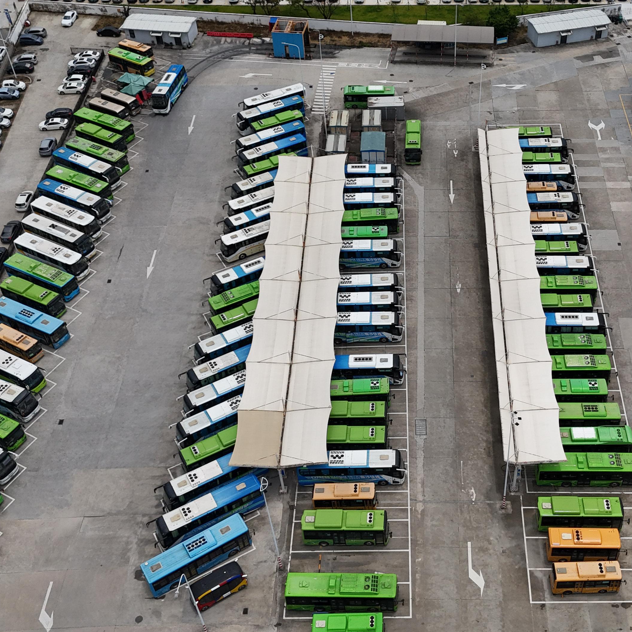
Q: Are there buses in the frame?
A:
Yes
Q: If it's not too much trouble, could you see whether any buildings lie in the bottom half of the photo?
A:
No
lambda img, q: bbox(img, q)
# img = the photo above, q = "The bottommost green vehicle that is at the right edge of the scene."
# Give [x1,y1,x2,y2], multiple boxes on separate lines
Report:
[537,497,627,531]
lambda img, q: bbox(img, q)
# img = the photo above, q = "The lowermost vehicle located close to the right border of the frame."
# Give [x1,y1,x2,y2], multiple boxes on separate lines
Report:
[551,560,627,597]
